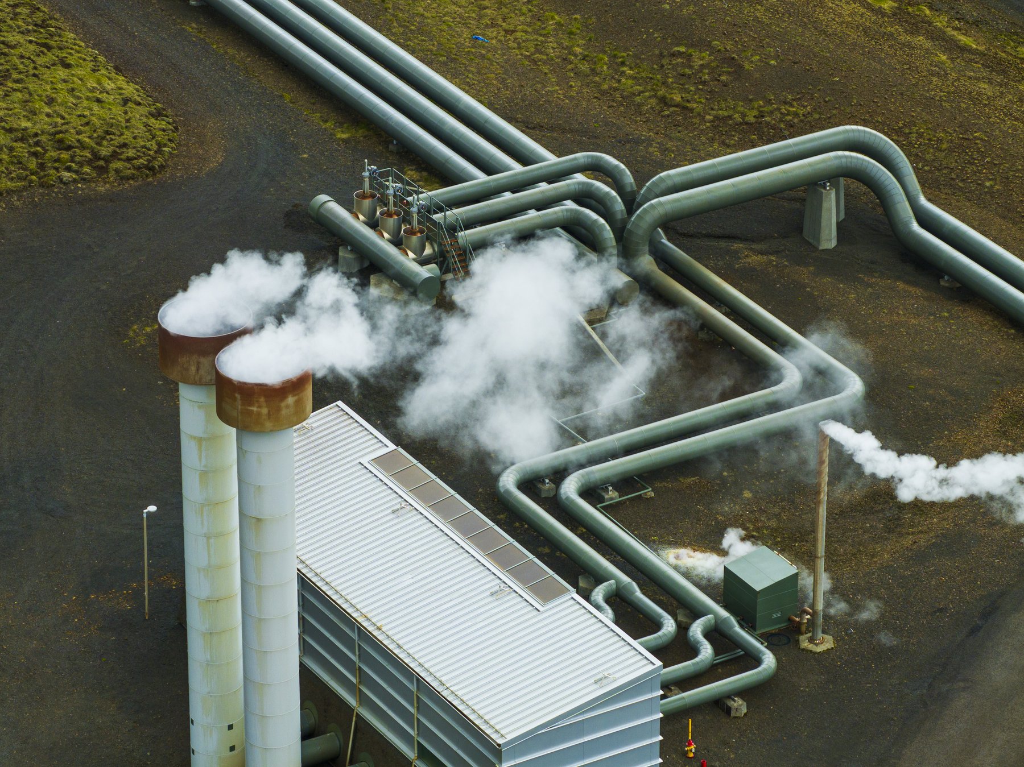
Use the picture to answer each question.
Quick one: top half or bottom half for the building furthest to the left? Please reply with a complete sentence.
The building furthest to the left is in the bottom half of the image.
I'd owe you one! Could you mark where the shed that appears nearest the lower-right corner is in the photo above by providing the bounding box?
[724,546,800,634]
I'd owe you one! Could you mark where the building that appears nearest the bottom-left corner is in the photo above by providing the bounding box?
[293,399,664,767]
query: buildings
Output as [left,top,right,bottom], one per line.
[724,546,800,634]
[293,399,664,767]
